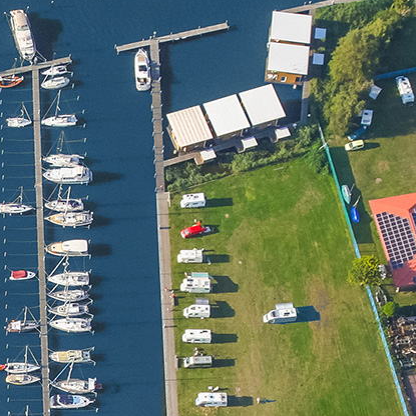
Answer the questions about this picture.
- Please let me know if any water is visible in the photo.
Yes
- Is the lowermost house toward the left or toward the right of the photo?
right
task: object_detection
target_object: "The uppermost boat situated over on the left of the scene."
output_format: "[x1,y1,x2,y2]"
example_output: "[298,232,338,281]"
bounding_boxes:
[10,8,35,59]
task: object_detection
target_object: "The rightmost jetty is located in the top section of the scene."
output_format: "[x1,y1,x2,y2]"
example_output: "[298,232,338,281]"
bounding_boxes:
[116,21,230,191]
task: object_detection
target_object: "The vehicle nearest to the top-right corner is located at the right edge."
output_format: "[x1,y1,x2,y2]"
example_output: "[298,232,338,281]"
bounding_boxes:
[396,79,413,108]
